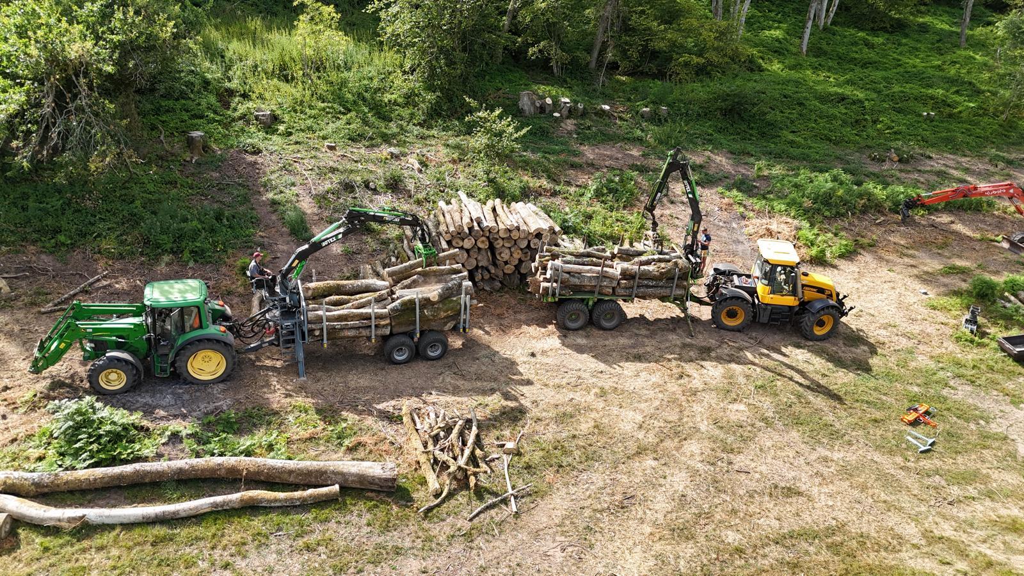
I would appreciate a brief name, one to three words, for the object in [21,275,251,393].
work vehicle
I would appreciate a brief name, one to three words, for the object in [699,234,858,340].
work vehicle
